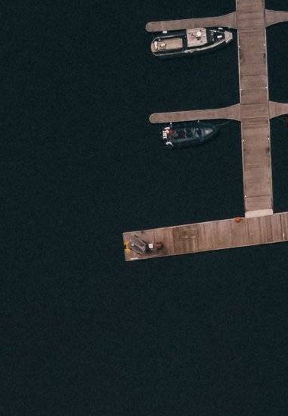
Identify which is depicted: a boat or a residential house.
boat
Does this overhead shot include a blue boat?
No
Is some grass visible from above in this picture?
No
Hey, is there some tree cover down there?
No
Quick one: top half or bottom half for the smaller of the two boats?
top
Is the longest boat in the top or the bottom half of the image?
top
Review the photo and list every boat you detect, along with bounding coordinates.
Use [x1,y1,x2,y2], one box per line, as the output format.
[151,27,232,59]
[162,121,215,149]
